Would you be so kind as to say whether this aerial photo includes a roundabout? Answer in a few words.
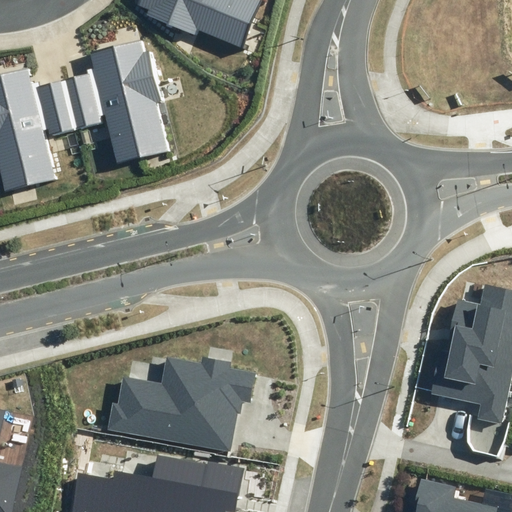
Yes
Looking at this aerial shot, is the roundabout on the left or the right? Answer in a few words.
right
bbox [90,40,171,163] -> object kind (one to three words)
house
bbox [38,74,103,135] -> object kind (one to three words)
house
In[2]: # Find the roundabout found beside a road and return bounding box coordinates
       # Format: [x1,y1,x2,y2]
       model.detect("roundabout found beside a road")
[295,155,407,268]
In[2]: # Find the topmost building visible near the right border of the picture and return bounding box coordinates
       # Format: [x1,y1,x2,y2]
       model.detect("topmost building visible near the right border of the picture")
[432,285,512,424]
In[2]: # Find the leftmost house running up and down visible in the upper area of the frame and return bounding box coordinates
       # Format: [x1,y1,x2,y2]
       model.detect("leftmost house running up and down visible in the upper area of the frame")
[0,68,60,190]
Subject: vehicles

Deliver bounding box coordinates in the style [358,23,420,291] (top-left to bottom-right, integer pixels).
[452,411,466,440]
